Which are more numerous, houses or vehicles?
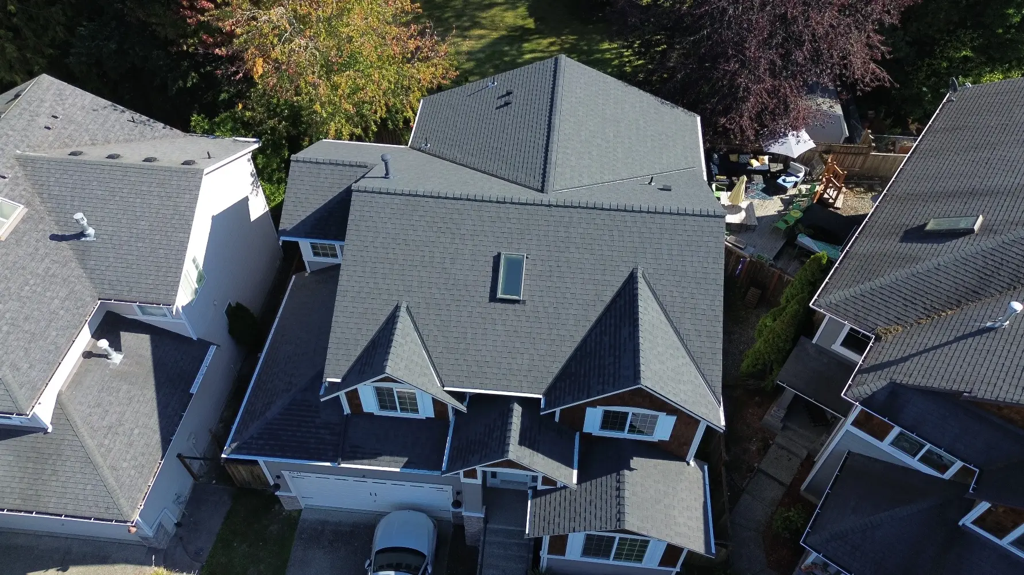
houses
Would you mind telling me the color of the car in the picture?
blue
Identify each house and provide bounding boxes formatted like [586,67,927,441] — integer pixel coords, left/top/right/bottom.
[219,53,729,575]
[772,80,1024,575]
[0,70,288,551]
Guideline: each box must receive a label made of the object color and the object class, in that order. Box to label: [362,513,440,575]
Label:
blue car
